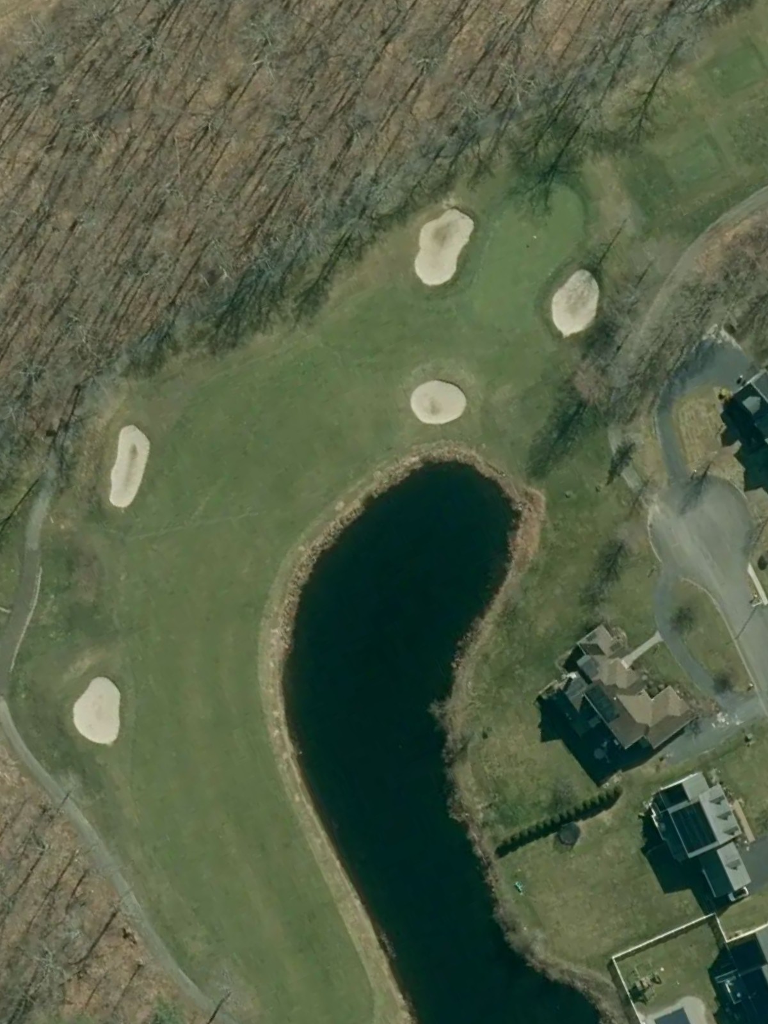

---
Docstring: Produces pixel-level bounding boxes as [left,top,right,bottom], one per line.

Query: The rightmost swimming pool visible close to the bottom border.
[634,995,707,1024]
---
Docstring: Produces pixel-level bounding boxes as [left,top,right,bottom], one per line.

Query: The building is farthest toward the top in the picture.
[734,368,768,442]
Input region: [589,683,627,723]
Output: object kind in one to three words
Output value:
solar panel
